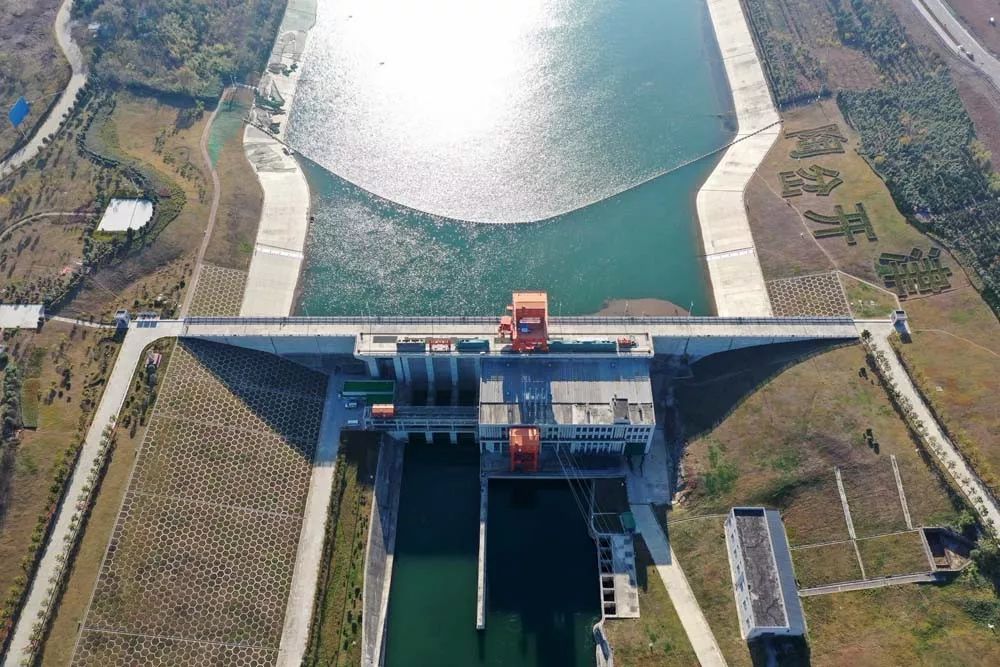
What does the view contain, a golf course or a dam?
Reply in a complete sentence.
The one in the frame is a dam.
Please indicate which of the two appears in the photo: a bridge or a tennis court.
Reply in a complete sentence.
Visible in the photo is a bridge.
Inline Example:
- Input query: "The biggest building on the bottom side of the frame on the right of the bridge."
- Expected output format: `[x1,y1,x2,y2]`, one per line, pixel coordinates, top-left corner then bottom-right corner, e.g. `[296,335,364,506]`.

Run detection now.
[478,354,659,490]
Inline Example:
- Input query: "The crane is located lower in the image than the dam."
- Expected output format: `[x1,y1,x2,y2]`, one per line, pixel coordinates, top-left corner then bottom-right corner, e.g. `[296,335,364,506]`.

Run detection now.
[510,428,541,472]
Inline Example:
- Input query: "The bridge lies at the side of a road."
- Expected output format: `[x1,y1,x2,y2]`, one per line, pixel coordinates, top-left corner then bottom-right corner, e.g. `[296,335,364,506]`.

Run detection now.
[366,379,479,462]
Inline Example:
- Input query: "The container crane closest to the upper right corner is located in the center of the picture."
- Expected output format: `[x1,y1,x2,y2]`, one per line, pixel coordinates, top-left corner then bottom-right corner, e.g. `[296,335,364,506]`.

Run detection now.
[502,285,551,352]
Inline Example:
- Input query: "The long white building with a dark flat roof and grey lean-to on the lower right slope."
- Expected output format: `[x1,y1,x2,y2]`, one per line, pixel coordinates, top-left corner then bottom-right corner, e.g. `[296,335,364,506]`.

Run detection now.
[720,507,812,644]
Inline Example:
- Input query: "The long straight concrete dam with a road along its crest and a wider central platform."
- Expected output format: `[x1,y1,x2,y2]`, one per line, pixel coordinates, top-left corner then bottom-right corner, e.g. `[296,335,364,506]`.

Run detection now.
[182,315,864,408]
